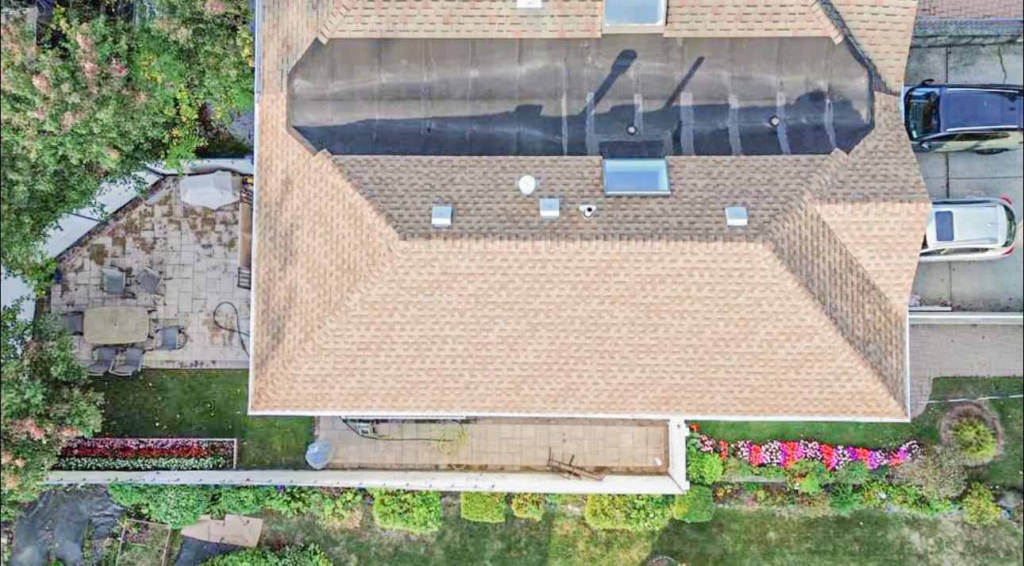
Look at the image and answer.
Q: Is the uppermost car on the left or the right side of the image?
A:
right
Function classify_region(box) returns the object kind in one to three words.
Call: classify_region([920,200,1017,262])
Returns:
car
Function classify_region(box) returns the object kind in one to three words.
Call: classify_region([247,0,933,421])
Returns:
house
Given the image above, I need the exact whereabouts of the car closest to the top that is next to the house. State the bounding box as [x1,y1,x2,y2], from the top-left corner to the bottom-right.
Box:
[907,79,1024,154]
